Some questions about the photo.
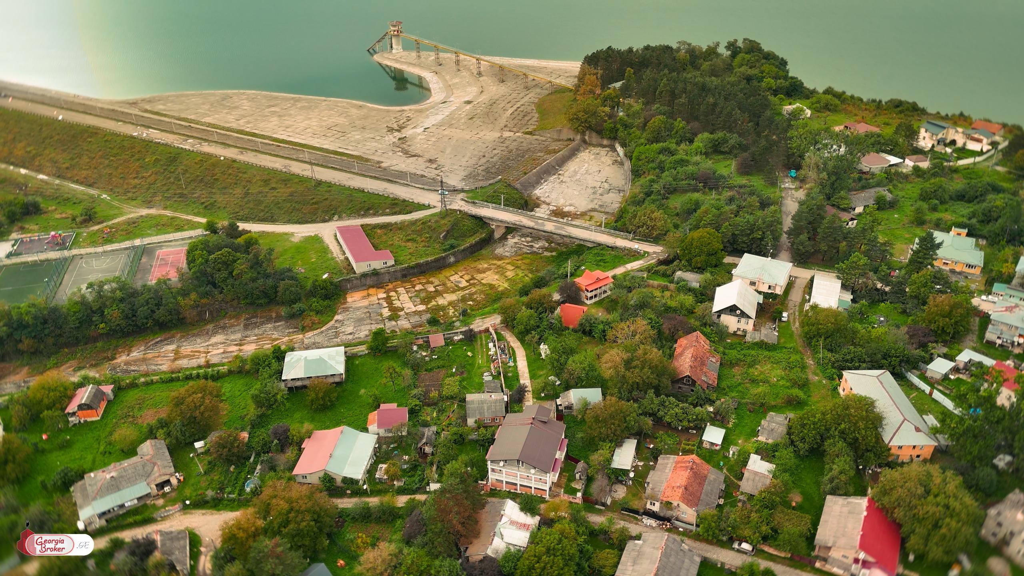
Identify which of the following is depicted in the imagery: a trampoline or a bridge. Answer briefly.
bridge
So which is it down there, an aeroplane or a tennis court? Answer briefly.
tennis court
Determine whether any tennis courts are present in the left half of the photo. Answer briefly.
Yes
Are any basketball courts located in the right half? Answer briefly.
No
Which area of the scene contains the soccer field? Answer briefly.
left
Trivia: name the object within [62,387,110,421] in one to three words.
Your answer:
house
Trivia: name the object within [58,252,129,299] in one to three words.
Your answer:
basketball court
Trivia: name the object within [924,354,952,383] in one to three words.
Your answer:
shed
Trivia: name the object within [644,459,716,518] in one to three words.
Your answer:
house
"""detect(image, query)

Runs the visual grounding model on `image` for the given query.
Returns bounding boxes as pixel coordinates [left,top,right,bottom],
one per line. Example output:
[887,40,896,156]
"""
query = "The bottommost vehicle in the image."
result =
[734,543,755,556]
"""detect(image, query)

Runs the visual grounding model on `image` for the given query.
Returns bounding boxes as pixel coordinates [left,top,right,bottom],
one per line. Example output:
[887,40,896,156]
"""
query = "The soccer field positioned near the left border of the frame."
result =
[0,254,67,307]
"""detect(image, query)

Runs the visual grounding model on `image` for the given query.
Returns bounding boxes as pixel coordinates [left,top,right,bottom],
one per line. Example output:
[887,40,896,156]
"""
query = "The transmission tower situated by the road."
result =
[436,169,449,213]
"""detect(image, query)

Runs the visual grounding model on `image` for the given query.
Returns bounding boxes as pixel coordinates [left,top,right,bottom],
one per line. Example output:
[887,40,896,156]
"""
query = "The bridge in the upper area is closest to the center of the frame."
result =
[459,200,656,253]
